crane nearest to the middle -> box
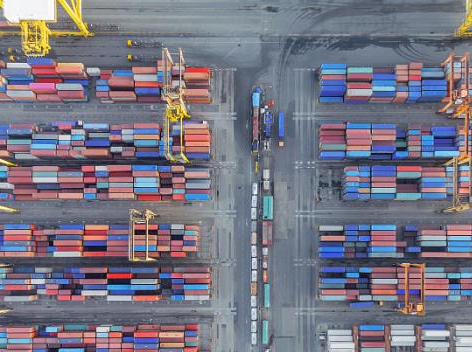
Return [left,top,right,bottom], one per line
[163,98,194,168]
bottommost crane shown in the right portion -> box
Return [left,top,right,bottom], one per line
[388,262,425,321]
